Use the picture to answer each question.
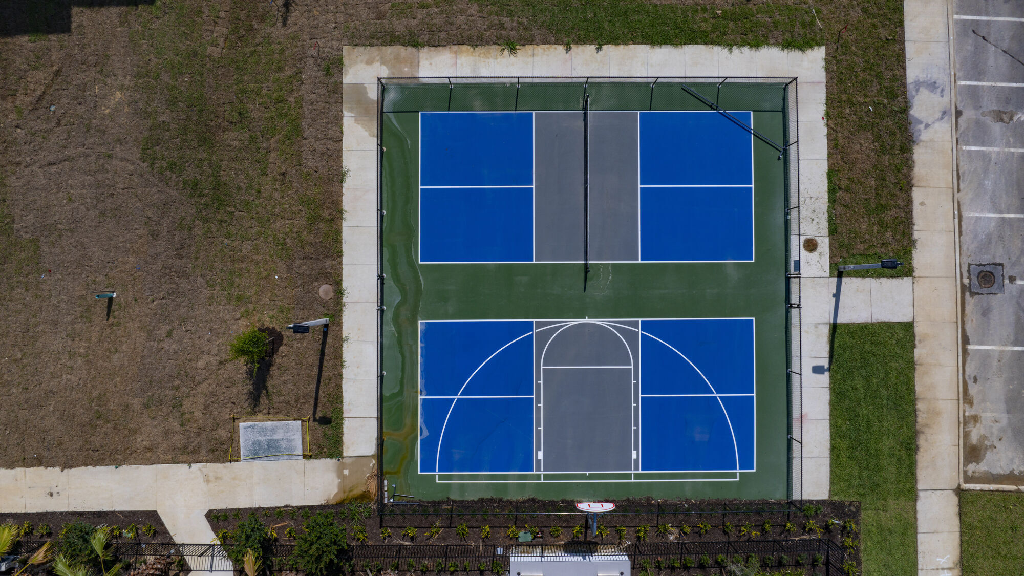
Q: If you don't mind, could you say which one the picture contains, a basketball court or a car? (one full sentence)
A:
Looking from above, you can make out a basketball court.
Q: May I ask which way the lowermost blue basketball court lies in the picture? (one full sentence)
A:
From this overhead view, the lowermost blue basketball court appears to run horizontally.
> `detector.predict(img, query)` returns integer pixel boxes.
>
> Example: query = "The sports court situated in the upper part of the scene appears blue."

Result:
[420,111,754,263]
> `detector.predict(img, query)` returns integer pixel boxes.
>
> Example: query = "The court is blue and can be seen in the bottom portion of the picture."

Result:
[419,317,756,483]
